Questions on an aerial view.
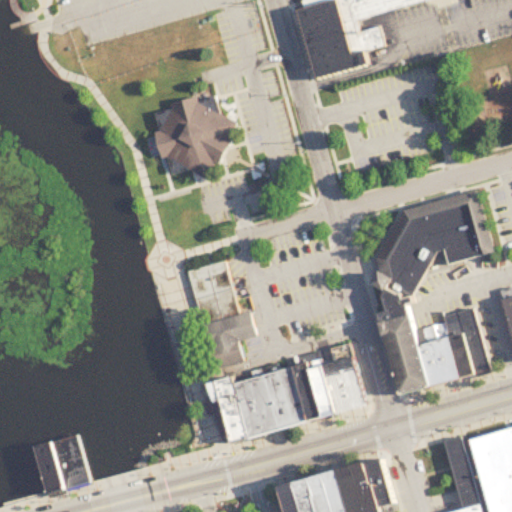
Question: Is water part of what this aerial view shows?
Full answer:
Yes, water shows up in the scene.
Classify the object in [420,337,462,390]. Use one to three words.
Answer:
building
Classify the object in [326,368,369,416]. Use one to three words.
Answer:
building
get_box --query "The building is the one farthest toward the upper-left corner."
[154,93,236,166]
